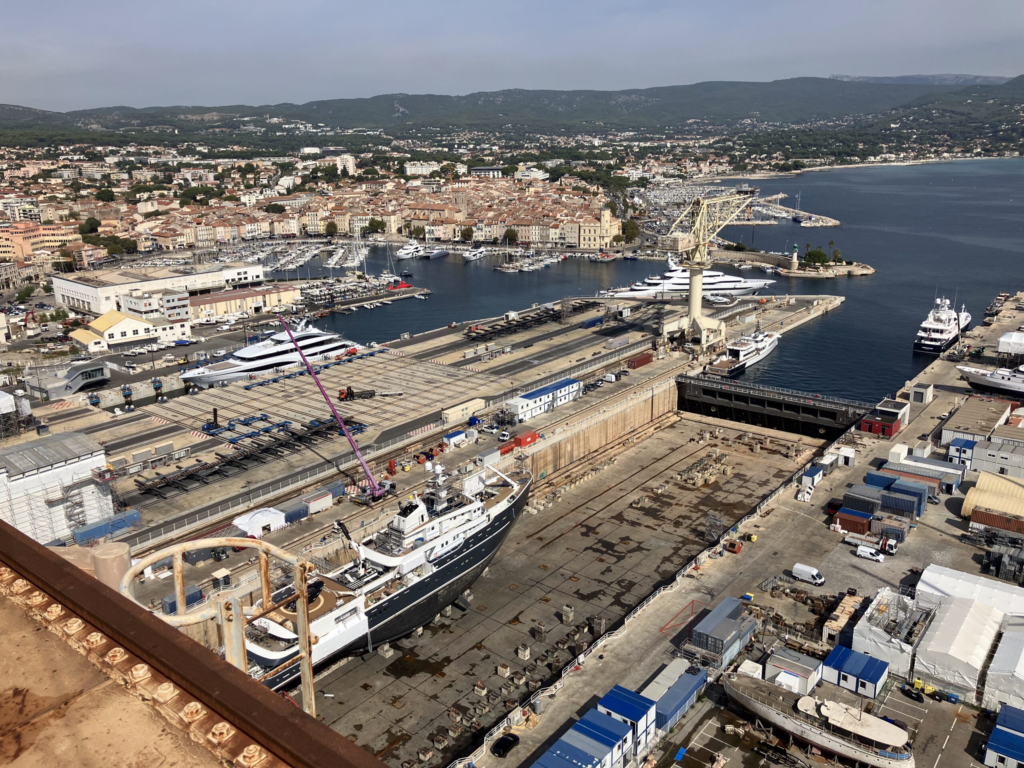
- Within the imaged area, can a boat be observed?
Yes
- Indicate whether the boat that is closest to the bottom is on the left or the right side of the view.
right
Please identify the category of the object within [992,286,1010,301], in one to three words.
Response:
vessel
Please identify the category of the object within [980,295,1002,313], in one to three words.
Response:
vessel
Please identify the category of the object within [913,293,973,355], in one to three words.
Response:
boat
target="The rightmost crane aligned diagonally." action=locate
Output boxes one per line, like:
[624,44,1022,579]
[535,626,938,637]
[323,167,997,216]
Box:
[277,314,404,510]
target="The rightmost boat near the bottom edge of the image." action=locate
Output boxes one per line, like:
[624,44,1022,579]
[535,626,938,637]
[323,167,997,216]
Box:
[718,676,923,768]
